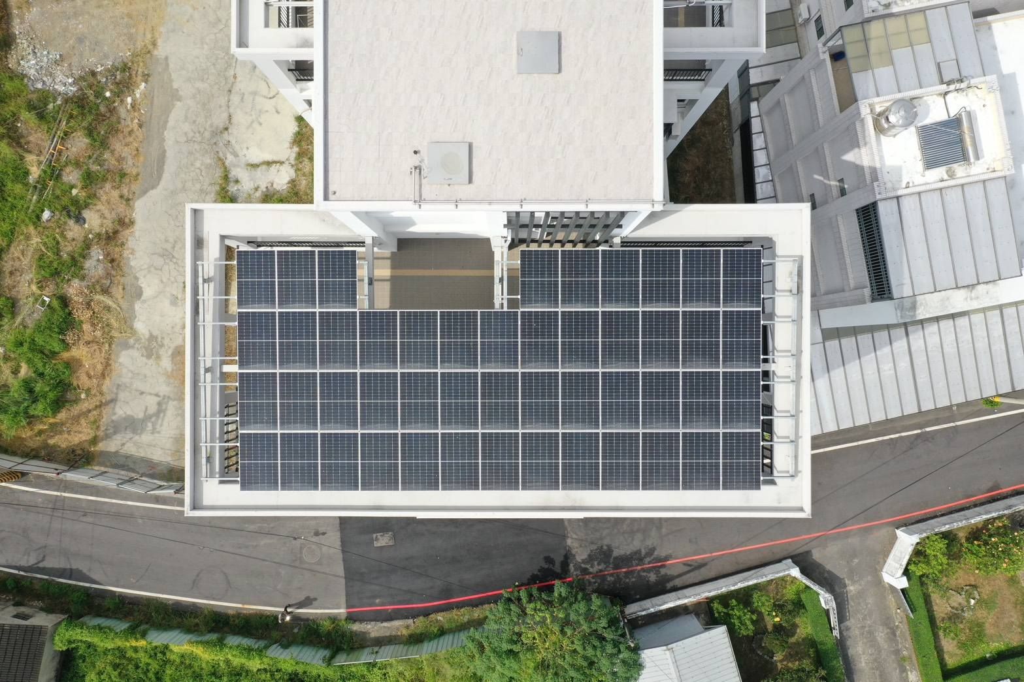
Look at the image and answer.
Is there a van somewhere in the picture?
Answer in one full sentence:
No, there appears to be no van in this shot.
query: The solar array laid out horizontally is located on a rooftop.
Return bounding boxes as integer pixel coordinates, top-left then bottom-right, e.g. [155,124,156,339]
[196,247,798,490]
